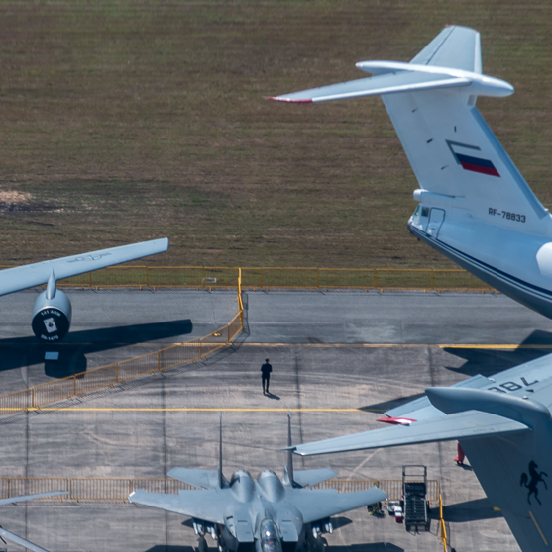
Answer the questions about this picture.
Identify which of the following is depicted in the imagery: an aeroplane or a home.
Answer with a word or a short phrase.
aeroplane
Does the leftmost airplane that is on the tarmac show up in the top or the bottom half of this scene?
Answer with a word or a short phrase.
bottom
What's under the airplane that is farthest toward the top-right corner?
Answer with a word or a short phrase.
grass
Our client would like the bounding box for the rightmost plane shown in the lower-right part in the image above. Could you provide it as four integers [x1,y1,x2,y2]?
[274,382,552,552]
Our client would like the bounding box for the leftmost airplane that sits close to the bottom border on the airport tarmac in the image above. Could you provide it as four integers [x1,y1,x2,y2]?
[127,418,387,552]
